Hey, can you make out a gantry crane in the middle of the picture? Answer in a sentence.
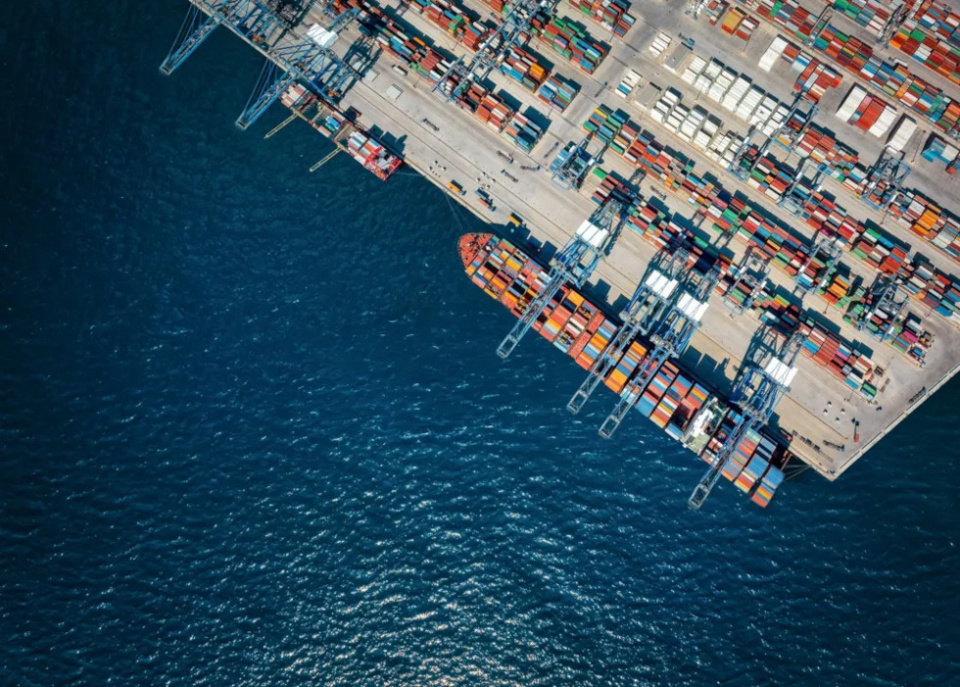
Yes, you'll find a gantry crane in the middle of the picture.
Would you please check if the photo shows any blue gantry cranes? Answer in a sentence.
Yes, there is a blue gantry crane in the image.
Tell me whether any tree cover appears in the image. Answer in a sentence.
No, the scene doesn't show any tree cover.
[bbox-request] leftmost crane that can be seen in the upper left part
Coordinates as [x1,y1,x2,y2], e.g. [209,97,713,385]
[160,0,284,69]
